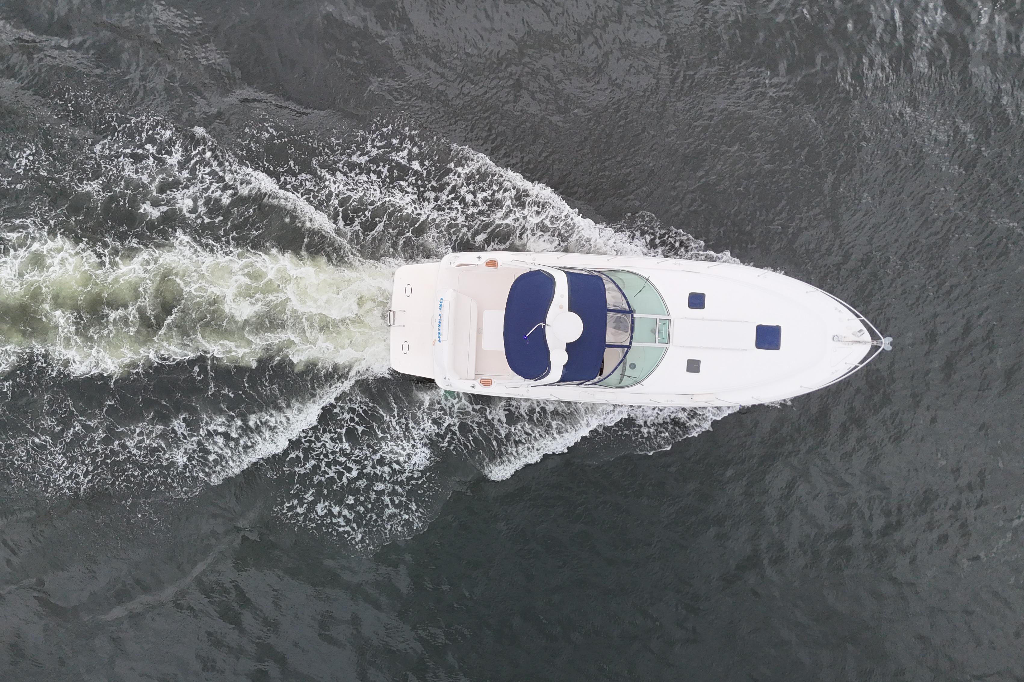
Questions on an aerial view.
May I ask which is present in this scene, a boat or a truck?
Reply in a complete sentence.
Looking from above, you can make out a boat.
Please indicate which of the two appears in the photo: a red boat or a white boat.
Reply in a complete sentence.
This aerial view contains a white boat.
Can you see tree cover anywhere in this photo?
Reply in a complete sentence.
No, there is no tree cover in the image.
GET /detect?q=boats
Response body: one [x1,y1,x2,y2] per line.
[387,250,885,407]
